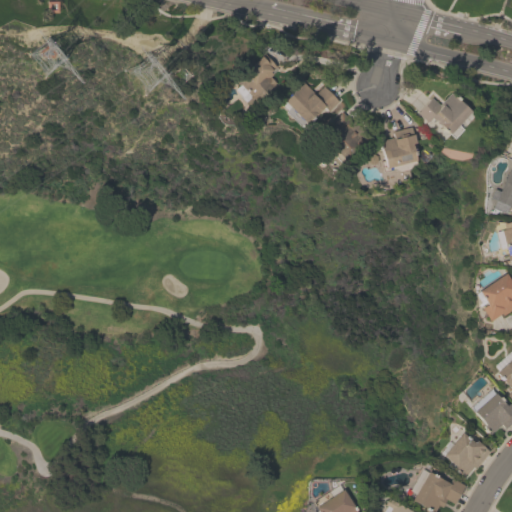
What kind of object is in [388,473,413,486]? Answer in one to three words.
swimming pool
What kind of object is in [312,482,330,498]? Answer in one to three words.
swimming pool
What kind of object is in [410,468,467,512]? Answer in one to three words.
house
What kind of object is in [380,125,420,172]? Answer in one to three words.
house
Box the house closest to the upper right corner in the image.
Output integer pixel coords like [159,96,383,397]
[421,96,474,138]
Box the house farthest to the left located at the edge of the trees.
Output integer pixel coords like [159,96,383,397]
[238,56,282,102]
